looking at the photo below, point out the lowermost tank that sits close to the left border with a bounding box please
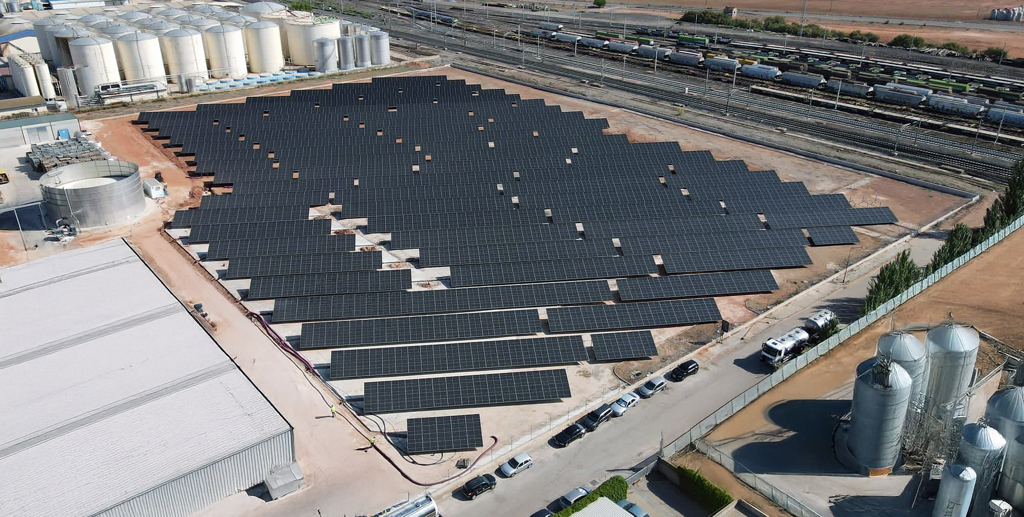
[34,167,149,231]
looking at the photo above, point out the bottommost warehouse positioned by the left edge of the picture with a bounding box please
[0,237,297,517]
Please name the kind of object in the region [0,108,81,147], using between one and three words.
building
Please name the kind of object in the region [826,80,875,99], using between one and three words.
rail car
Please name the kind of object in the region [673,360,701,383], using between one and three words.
car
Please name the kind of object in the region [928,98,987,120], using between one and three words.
rail car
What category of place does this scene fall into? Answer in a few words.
industrial area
